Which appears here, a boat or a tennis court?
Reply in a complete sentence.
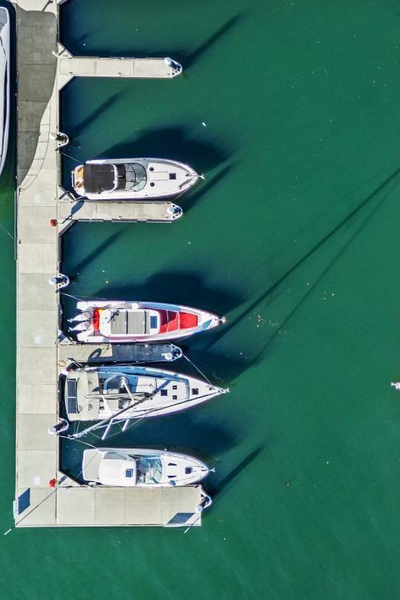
There is a boat in the scene.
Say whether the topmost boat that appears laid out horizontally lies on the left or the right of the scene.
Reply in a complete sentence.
The topmost boat that appears laid out horizontally is on the left side of the image.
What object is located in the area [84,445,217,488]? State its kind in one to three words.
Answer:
boat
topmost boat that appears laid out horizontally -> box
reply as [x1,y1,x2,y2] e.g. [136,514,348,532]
[71,159,205,200]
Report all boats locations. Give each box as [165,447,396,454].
[0,6,15,194]
[69,301,228,342]
[60,367,228,438]
[84,445,217,488]
[71,159,205,200]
